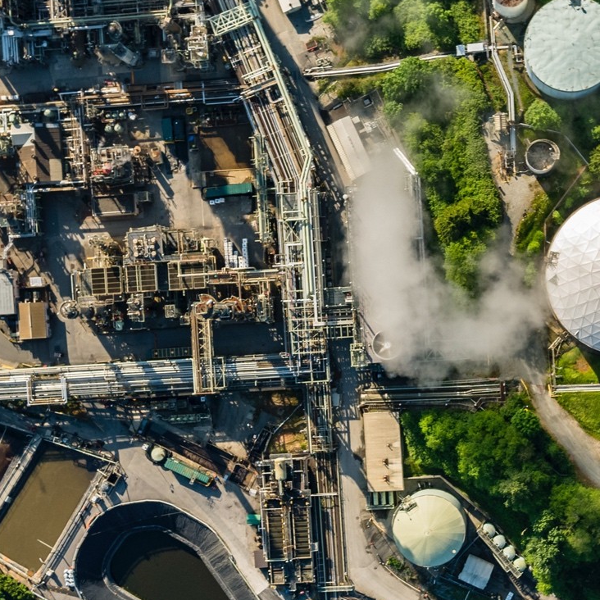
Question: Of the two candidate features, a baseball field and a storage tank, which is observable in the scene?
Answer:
storage tank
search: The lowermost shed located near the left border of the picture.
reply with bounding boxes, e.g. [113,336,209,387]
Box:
[18,301,53,339]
